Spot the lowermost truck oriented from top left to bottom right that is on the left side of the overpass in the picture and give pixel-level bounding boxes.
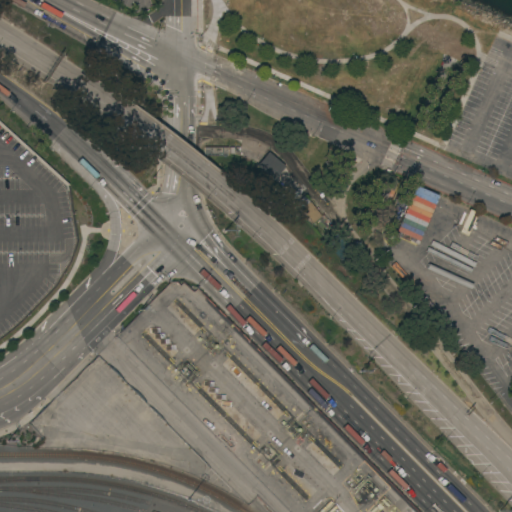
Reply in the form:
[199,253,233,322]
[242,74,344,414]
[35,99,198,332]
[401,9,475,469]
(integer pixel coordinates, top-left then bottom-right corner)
[78,156,107,188]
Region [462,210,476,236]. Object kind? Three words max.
vehicle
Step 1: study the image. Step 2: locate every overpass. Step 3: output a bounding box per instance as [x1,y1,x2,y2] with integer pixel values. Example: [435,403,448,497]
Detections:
[150,127,225,198]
